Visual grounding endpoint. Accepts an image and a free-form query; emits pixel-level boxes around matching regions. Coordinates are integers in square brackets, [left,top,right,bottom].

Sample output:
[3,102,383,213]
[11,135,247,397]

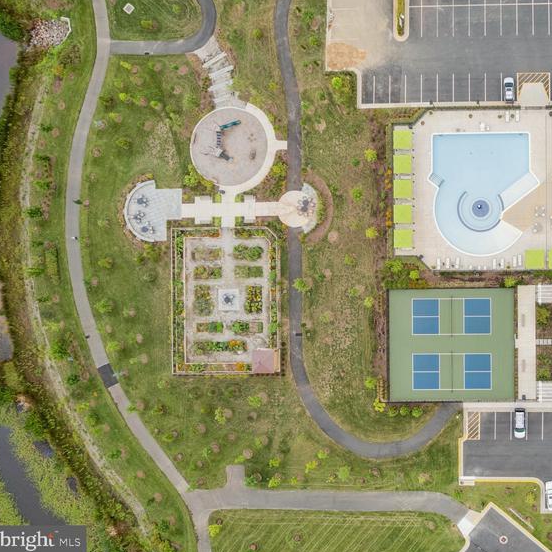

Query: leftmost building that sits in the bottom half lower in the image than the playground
[251,347,285,373]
